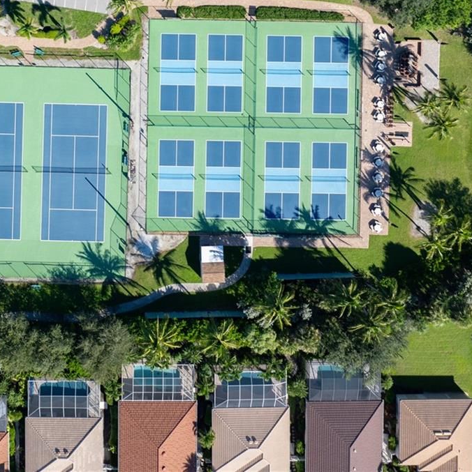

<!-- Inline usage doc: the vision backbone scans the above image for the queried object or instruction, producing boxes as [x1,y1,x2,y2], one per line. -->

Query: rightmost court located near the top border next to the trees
[306,22,362,128]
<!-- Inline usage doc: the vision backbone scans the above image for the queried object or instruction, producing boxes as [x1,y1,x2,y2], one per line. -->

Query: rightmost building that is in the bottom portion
[396,394,472,472]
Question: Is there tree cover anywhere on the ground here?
Yes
